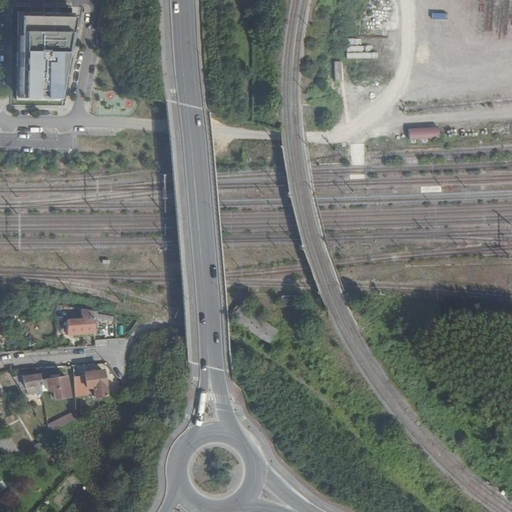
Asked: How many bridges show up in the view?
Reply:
two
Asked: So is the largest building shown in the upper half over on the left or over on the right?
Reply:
left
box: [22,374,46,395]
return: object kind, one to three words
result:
house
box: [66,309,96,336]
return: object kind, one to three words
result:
house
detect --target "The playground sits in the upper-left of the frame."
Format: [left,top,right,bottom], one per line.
[95,90,136,116]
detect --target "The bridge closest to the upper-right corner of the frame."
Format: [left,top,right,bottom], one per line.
[280,127,347,308]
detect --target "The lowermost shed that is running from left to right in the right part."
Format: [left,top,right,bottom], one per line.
[410,126,441,139]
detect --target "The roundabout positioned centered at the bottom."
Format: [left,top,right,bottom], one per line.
[148,366,356,512]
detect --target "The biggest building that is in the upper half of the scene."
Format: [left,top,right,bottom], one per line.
[12,12,78,106]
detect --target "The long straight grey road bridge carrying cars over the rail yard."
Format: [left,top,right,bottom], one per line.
[165,97,230,376]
